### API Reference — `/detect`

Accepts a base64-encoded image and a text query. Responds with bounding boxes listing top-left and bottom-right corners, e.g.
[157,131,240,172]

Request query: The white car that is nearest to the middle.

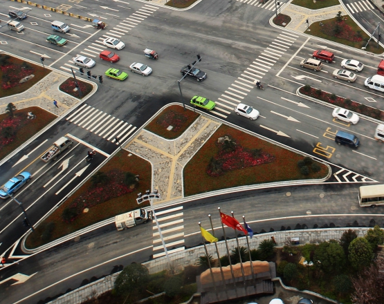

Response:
[233,102,261,122]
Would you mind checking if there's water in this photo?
No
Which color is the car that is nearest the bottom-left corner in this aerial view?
blue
